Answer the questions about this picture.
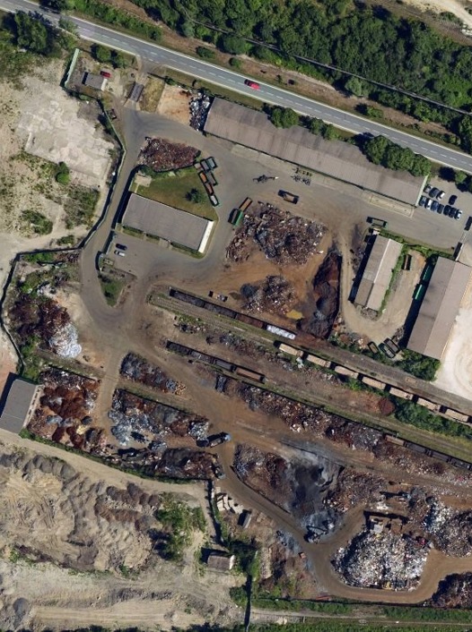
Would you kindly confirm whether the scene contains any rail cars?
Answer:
Yes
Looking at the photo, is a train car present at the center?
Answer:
Yes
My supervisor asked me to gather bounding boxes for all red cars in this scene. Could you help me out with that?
[246,81,259,88]
[99,70,111,78]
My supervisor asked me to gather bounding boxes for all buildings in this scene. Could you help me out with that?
[407,257,472,359]
[208,552,233,569]
[121,193,219,253]
[353,235,405,311]
[85,73,110,91]
[0,377,43,435]
[204,98,429,207]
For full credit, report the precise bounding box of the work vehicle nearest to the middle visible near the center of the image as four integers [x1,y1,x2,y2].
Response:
[211,291,231,303]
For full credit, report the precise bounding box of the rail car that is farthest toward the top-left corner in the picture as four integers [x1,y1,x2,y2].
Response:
[168,287,206,308]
